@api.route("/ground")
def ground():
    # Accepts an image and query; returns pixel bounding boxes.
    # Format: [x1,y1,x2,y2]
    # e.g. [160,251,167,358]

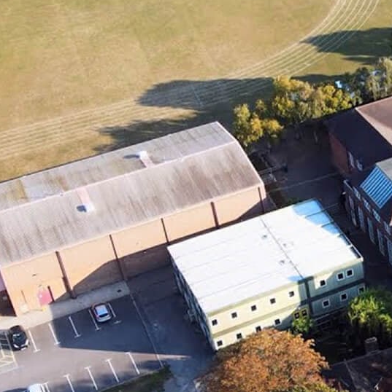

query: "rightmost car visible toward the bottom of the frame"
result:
[92,301,112,324]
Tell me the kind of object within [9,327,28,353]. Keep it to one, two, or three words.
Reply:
car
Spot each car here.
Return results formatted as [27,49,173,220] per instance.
[24,382,43,392]
[9,327,28,353]
[92,301,112,324]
